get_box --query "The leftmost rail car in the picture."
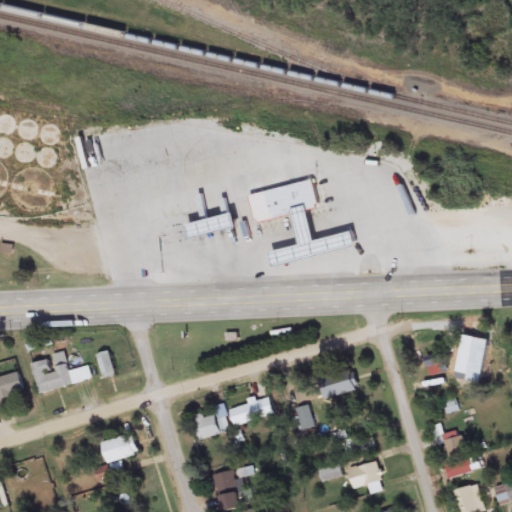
[1,3,42,17]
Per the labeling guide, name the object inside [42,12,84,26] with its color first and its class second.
white rail car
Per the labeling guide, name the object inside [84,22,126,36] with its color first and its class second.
white rail car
